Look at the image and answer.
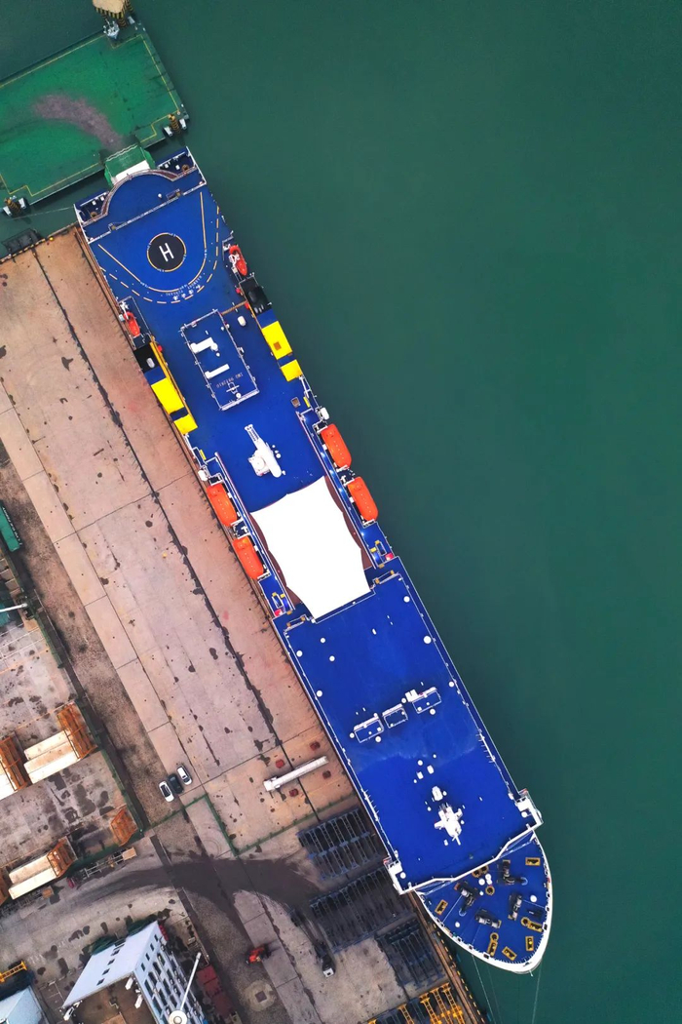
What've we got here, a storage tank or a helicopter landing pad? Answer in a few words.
helicopter landing pad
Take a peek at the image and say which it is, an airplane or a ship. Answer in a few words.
ship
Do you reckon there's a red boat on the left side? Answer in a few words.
Yes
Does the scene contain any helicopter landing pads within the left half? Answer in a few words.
Yes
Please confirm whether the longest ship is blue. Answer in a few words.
Yes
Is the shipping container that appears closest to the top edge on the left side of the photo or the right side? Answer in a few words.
left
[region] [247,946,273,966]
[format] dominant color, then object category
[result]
red work vehicle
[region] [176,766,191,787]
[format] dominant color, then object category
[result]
white car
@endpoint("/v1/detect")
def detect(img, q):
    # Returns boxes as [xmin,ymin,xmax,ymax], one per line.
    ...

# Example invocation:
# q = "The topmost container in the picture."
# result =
[0,502,28,556]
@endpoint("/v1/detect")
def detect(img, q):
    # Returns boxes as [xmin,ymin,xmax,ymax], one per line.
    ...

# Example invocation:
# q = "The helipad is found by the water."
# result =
[92,186,219,303]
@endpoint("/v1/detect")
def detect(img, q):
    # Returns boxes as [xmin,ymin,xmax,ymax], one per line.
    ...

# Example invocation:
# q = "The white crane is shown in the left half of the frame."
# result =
[245,422,281,478]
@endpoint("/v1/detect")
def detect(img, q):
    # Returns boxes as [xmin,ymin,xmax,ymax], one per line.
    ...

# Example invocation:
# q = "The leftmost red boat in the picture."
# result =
[121,311,141,339]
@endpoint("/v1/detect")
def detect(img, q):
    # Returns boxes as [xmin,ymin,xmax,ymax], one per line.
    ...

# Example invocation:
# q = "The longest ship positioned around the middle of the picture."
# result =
[71,144,554,976]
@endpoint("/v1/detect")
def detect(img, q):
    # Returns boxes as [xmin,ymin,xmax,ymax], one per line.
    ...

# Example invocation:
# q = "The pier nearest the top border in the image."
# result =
[0,13,189,208]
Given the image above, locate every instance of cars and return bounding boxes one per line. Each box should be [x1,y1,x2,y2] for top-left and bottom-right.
[167,774,182,795]
[176,766,191,787]
[158,782,173,803]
